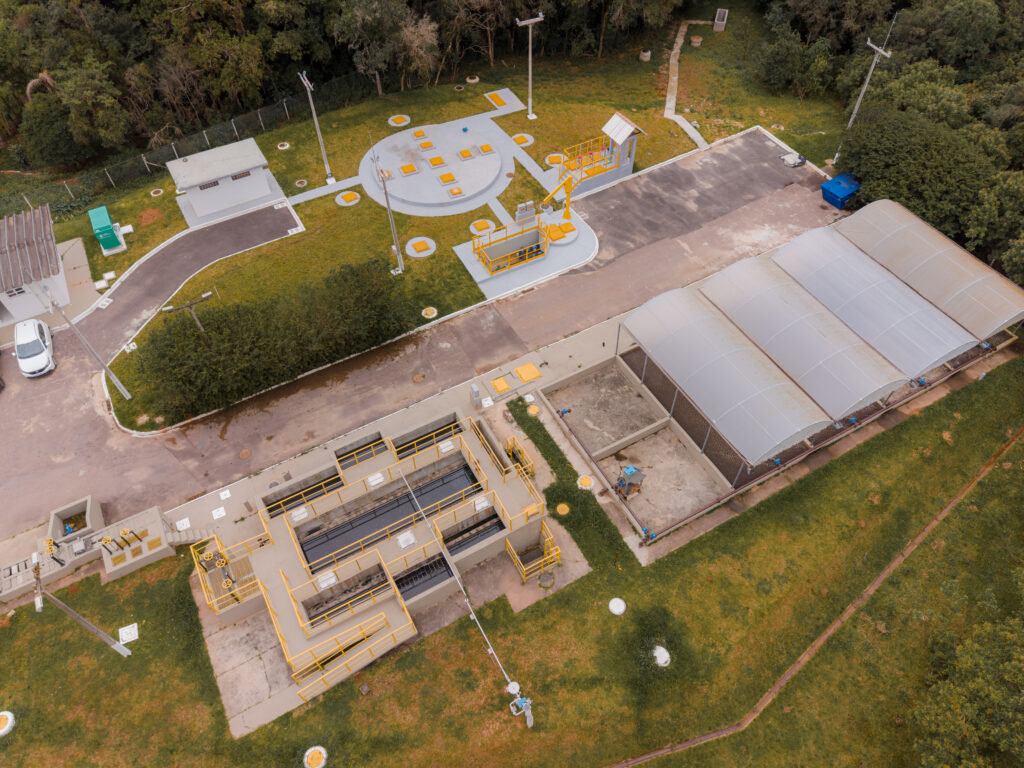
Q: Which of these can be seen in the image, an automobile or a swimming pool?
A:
automobile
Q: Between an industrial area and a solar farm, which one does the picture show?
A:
industrial area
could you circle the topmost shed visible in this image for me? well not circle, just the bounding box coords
[600,112,647,168]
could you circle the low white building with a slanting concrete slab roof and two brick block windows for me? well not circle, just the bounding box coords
[165,134,274,217]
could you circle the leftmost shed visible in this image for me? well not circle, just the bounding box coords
[0,204,70,322]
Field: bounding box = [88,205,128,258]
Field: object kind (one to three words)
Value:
building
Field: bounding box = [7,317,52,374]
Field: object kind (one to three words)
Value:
car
